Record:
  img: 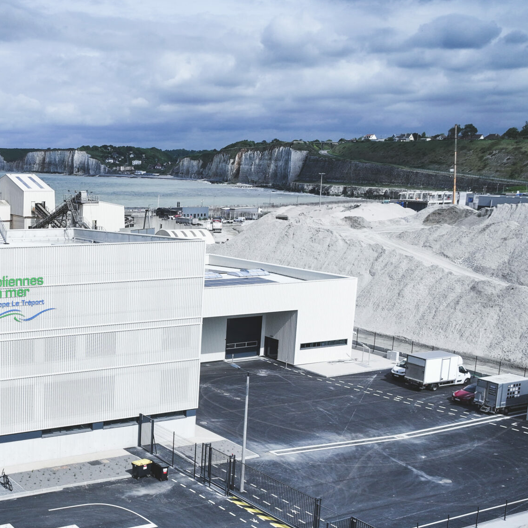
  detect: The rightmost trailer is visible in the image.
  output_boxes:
[471,370,528,412]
